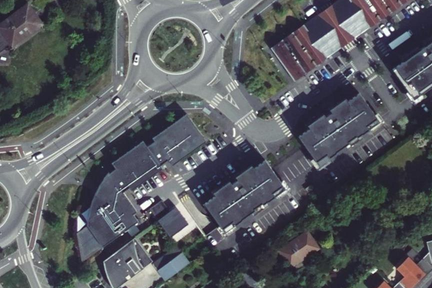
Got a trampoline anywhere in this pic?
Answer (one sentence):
No, there is no trampoline in the image.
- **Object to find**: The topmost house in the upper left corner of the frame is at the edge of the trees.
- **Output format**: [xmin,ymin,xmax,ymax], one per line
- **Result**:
[0,2,44,50]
